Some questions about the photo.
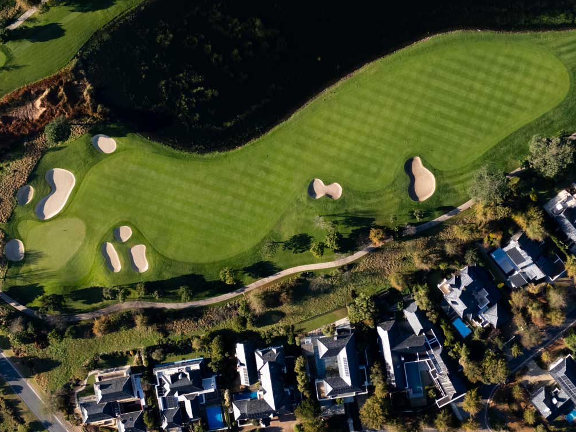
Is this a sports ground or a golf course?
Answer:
golf course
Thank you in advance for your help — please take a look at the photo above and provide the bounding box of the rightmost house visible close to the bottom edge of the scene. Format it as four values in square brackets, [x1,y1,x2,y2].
[526,355,576,420]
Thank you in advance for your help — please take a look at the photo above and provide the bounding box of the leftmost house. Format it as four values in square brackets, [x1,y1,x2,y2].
[77,361,147,432]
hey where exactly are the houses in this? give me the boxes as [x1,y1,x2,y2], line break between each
[505,232,563,288]
[77,361,147,432]
[544,175,576,260]
[435,263,510,330]
[305,328,367,401]
[154,354,217,432]
[375,304,464,406]
[526,355,576,420]
[230,337,290,427]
